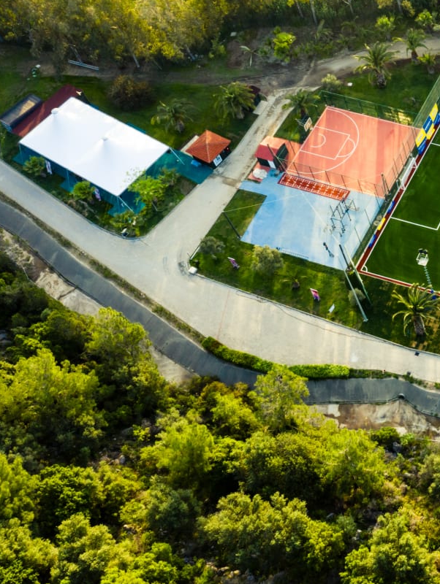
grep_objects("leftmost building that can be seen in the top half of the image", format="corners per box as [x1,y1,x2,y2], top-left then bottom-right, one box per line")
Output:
[0,95,44,143]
